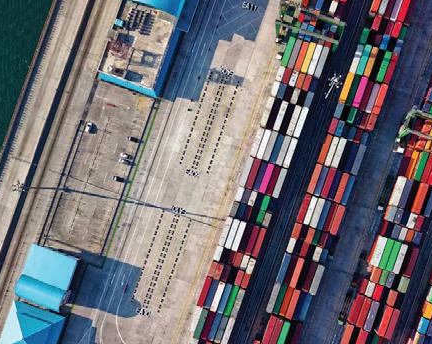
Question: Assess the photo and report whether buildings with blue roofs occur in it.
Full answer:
Yes, you can see a building with a blue roof in this photo.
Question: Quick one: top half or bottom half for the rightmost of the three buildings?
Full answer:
You can find the rightmost of the three buildings in the top half.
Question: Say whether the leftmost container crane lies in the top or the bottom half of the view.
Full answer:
The top half of the photo is where the leftmost container crane is.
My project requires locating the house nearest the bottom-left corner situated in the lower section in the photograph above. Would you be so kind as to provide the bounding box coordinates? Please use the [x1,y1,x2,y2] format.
[0,299,66,344]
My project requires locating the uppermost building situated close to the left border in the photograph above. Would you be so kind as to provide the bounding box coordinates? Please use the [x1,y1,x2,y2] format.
[11,243,85,311]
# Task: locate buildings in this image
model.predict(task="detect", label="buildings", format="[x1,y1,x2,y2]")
[93,0,210,101]
[0,299,66,344]
[11,243,85,311]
